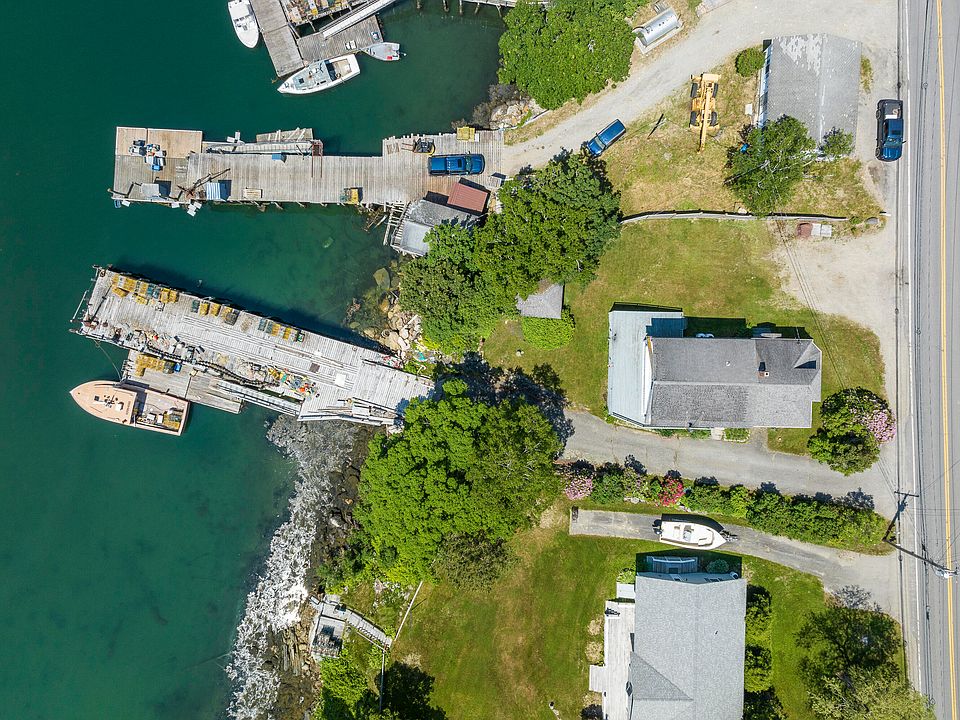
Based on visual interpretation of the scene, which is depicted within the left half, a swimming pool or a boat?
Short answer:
boat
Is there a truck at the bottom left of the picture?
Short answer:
No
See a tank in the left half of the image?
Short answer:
No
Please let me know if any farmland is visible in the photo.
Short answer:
No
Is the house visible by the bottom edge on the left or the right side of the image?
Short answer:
right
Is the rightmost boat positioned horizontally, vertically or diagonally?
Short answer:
horizontally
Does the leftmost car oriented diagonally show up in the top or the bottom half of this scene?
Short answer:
top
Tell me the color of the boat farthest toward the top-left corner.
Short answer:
white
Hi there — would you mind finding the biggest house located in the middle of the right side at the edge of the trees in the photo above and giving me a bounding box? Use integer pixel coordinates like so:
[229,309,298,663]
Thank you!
[605,310,822,428]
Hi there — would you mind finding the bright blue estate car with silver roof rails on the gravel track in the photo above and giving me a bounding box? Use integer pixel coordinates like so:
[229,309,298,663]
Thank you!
[582,114,632,158]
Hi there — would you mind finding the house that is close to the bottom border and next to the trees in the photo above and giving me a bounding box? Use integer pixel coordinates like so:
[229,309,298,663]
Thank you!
[589,557,748,720]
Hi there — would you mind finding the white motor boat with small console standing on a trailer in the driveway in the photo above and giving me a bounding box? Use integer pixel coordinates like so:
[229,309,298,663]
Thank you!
[652,519,729,547]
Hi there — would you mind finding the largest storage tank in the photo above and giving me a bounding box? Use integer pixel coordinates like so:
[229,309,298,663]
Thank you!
[631,2,691,57]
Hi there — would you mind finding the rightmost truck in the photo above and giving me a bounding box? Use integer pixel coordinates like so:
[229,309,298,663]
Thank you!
[872,99,902,161]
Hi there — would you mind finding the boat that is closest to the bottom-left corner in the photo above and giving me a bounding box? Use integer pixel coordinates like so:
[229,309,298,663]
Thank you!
[68,383,195,437]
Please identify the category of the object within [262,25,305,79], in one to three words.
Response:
pier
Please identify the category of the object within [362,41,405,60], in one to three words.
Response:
boat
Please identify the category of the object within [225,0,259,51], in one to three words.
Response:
boat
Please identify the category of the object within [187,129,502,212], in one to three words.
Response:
pier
